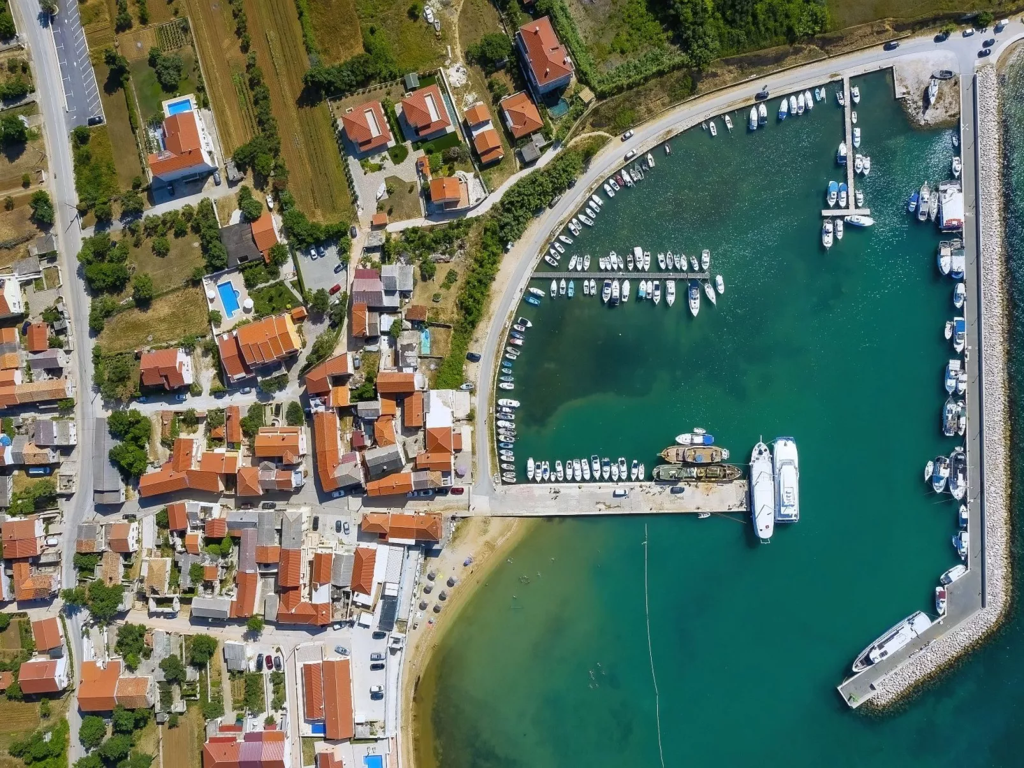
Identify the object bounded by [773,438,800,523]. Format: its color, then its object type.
white ship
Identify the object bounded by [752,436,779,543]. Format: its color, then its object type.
white ship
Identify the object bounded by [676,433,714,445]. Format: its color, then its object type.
white boat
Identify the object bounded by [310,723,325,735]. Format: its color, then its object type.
blue swimming pool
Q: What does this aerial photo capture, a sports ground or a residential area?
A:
residential area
